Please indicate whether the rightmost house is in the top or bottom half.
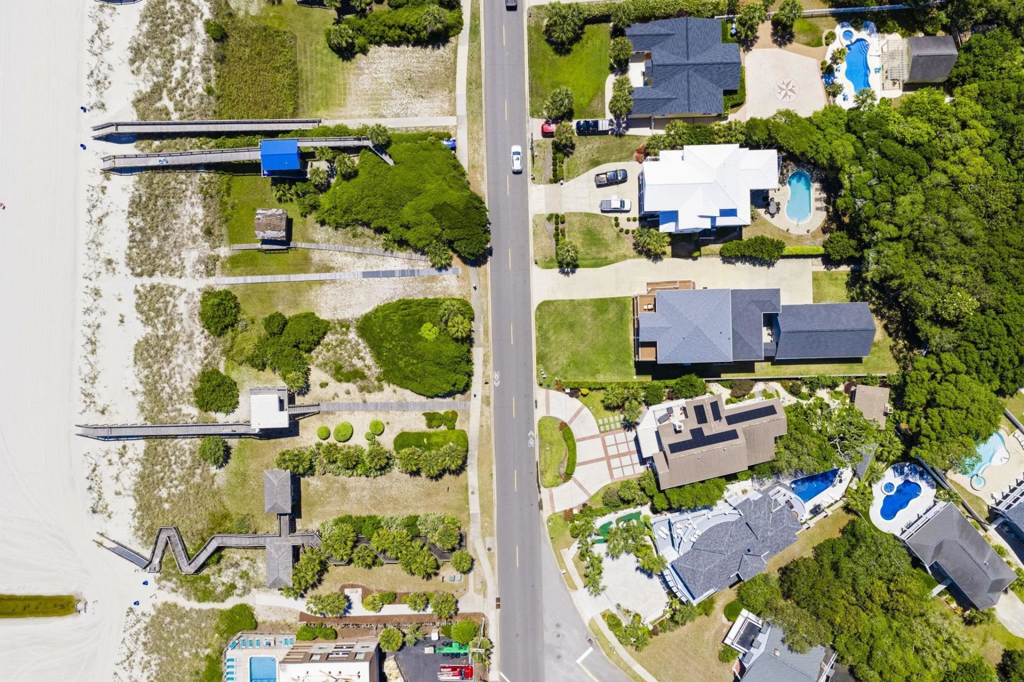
bottom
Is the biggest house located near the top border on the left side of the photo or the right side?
right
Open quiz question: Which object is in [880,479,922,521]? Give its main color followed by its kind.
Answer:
blue swimming pool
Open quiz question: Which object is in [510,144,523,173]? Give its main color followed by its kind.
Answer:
white vehicle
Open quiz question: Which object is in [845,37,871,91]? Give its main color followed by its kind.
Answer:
blue swimming pool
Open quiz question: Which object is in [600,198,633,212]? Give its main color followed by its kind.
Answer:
white vehicle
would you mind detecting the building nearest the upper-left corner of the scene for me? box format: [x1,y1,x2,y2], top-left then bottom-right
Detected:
[260,138,309,180]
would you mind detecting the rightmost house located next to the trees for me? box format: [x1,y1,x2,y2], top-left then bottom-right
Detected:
[978,470,1024,552]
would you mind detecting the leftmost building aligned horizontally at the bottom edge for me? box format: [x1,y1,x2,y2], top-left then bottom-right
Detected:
[277,636,380,682]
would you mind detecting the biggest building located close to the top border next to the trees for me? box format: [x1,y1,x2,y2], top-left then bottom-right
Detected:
[626,17,740,123]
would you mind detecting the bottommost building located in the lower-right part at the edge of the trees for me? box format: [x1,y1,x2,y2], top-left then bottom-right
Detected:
[715,598,825,682]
